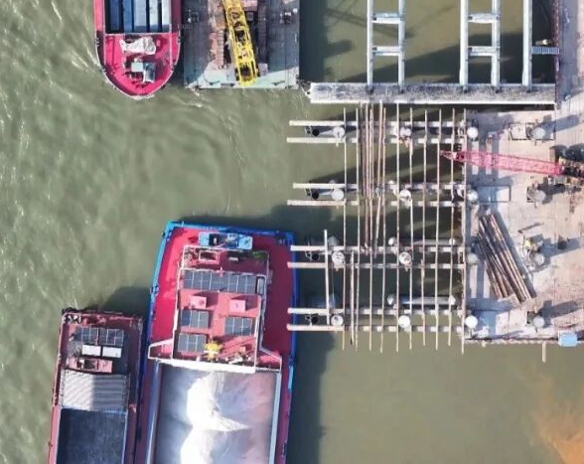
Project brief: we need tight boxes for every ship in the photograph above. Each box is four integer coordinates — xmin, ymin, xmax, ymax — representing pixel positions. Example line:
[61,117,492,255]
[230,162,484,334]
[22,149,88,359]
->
[140,221,295,464]
[94,0,183,96]
[46,306,144,464]
[184,0,299,90]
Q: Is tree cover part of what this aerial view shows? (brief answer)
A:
No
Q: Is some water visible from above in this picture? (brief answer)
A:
Yes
